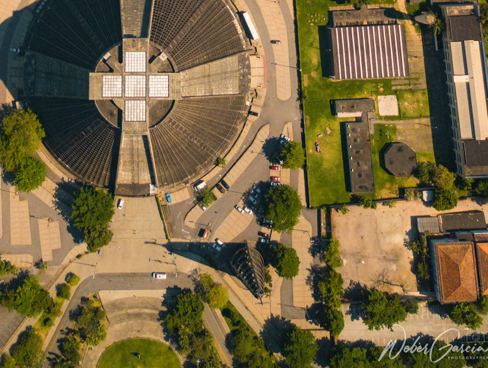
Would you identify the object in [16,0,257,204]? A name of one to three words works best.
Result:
church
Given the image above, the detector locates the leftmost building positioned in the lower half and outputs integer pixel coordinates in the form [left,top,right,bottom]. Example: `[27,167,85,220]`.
[230,239,267,303]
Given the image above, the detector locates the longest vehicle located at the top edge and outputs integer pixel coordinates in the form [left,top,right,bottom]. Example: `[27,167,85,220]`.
[242,12,258,38]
